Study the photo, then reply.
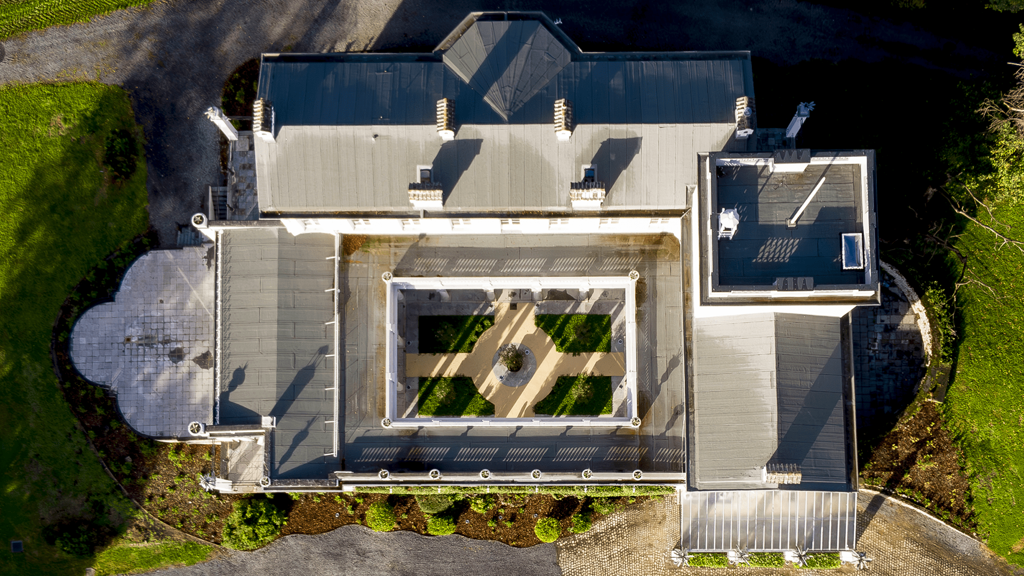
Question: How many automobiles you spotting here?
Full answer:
Not a single automobile can be seen.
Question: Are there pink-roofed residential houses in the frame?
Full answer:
No, there's no pink-roofed residential house here.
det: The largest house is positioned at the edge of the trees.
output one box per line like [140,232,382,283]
[203,10,883,553]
